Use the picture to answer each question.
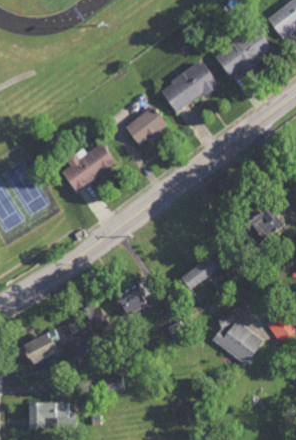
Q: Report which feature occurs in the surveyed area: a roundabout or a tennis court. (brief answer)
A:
tennis court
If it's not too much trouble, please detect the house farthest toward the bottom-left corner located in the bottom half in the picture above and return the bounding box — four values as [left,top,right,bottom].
[28,402,74,431]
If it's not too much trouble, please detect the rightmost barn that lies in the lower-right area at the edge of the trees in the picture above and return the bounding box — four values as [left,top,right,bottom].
[268,322,296,344]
